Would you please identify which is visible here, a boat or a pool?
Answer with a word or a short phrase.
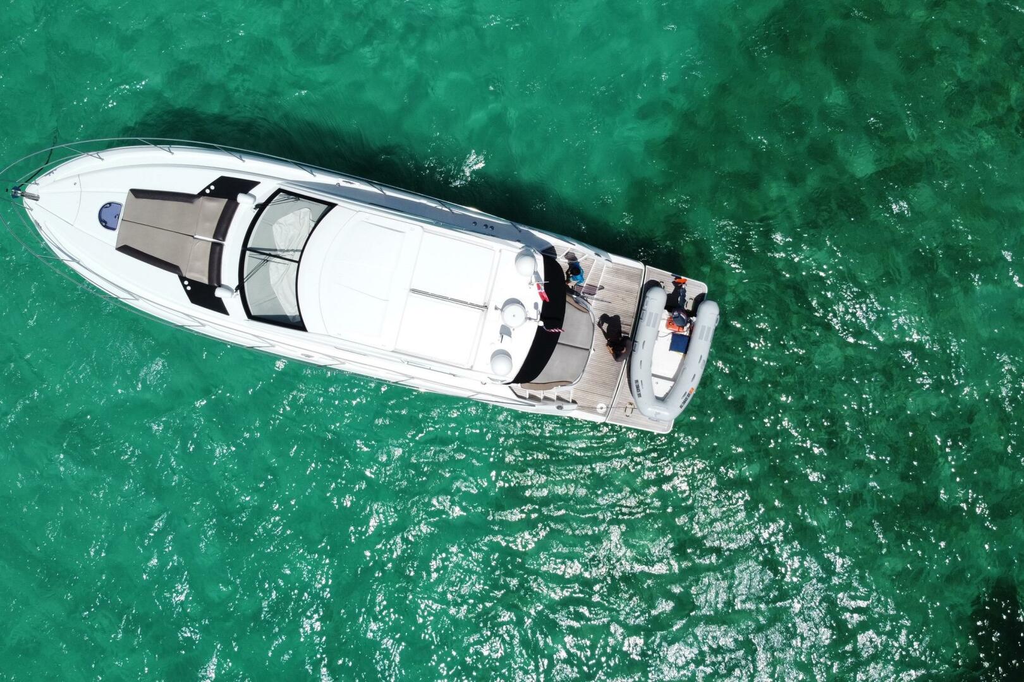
boat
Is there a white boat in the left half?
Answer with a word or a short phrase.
Yes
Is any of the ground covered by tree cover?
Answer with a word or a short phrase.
No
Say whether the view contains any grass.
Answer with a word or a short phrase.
No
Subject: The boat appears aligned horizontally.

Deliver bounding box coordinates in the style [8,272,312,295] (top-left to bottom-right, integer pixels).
[0,137,707,434]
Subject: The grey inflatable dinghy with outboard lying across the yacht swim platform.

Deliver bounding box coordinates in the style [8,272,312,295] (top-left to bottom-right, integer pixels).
[631,278,719,421]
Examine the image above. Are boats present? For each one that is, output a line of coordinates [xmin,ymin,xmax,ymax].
[631,278,719,421]
[0,137,707,434]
